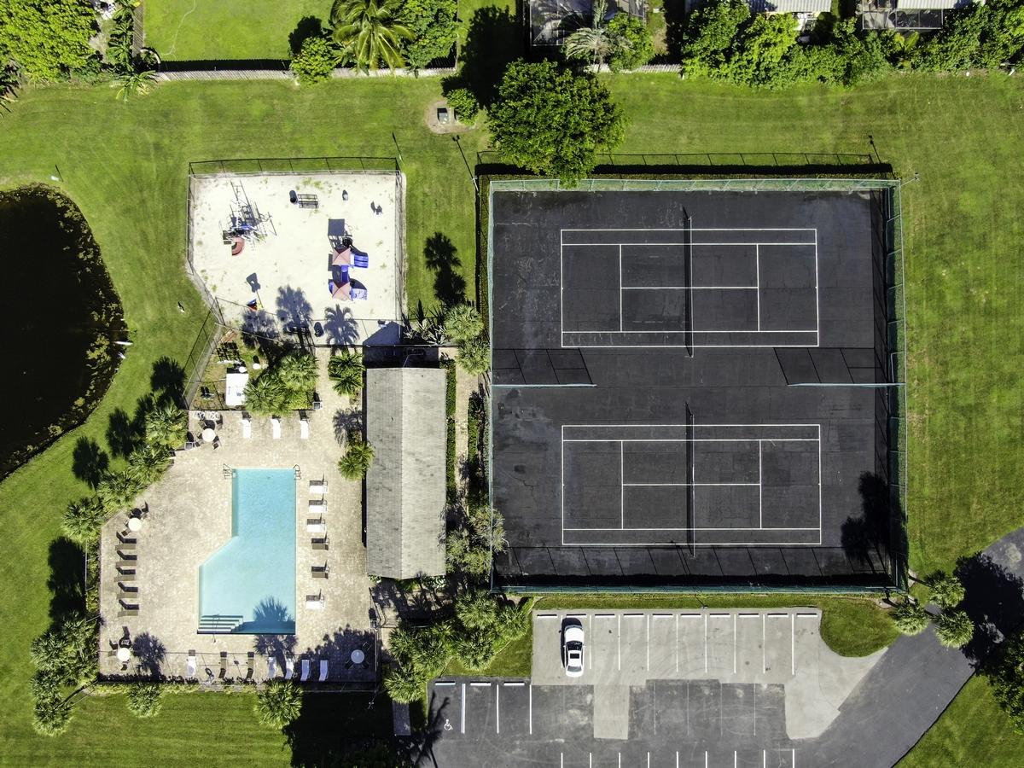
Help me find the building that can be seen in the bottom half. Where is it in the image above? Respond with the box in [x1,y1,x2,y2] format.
[365,367,448,582]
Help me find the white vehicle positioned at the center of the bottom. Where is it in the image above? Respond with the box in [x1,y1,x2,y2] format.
[561,626,586,678]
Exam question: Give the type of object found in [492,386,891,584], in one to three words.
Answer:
tennis court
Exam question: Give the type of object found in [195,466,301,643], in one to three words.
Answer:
swimming pool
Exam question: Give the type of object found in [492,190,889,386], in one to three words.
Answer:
tennis court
